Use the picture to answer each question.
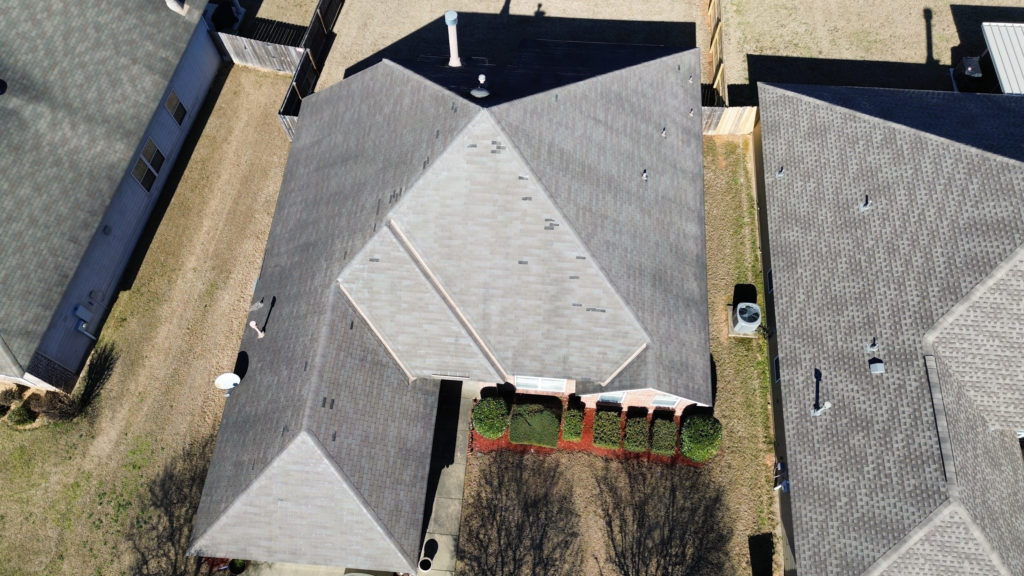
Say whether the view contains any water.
No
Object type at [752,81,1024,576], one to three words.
house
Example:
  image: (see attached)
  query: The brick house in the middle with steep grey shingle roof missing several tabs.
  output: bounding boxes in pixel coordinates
[185,11,713,576]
